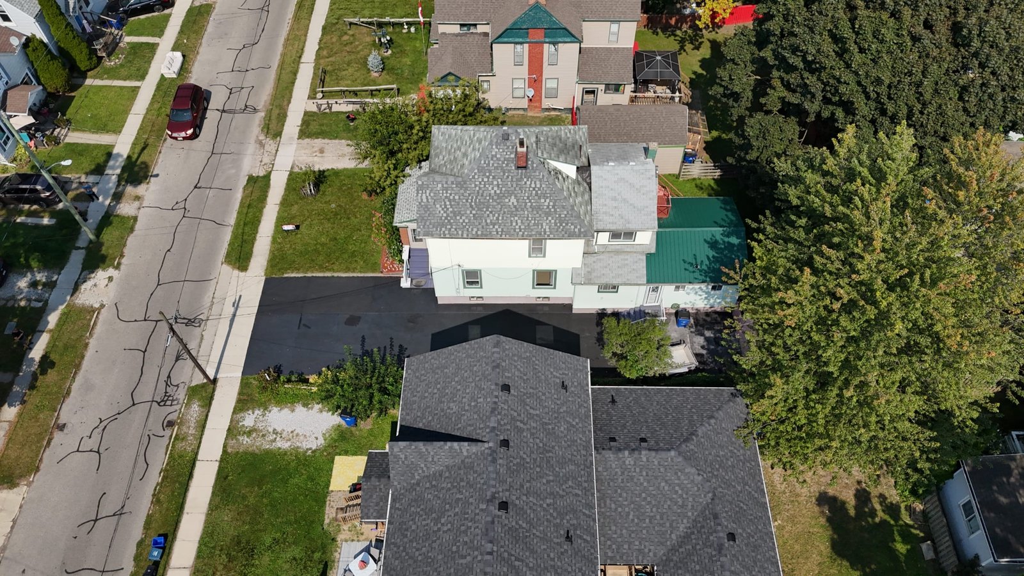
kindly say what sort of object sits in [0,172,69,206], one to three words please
car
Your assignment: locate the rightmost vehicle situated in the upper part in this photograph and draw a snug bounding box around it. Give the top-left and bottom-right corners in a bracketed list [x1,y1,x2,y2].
[166,84,207,138]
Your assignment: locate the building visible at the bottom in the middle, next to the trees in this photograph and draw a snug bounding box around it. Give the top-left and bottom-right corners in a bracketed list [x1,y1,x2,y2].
[359,336,774,576]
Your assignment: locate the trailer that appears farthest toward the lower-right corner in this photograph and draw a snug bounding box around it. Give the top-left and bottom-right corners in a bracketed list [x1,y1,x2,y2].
[633,341,699,378]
